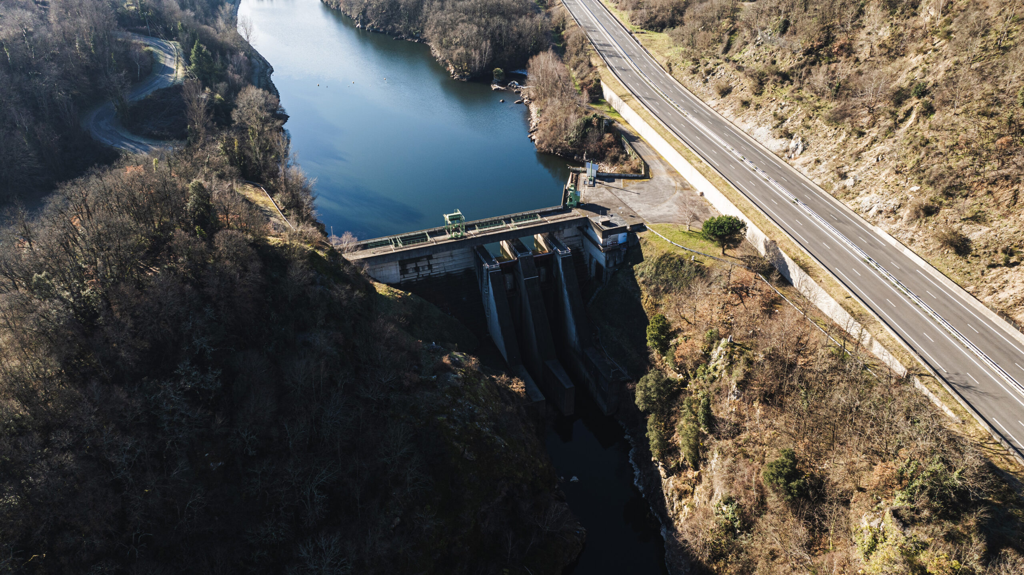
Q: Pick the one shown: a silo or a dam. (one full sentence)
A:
Visible in the photo is a dam.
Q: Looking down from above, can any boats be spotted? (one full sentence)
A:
No, no boat is visible in the view.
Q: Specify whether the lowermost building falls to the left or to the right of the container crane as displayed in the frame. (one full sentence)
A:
The lowermost building can be seen on the right of the container crane.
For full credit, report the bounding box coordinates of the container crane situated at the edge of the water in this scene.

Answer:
[441,207,467,239]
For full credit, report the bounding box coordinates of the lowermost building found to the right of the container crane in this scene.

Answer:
[579,212,644,283]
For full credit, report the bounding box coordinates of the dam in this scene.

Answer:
[326,204,621,425]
